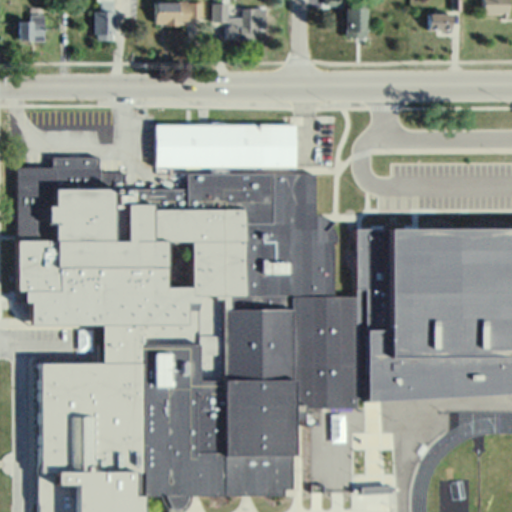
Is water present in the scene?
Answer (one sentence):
No, there is no water in the image.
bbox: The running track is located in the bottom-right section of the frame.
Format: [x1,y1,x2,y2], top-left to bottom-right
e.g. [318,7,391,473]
[410,412,512,512]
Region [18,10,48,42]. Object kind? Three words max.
house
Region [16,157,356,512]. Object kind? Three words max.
building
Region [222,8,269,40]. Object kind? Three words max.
house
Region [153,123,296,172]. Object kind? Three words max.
building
